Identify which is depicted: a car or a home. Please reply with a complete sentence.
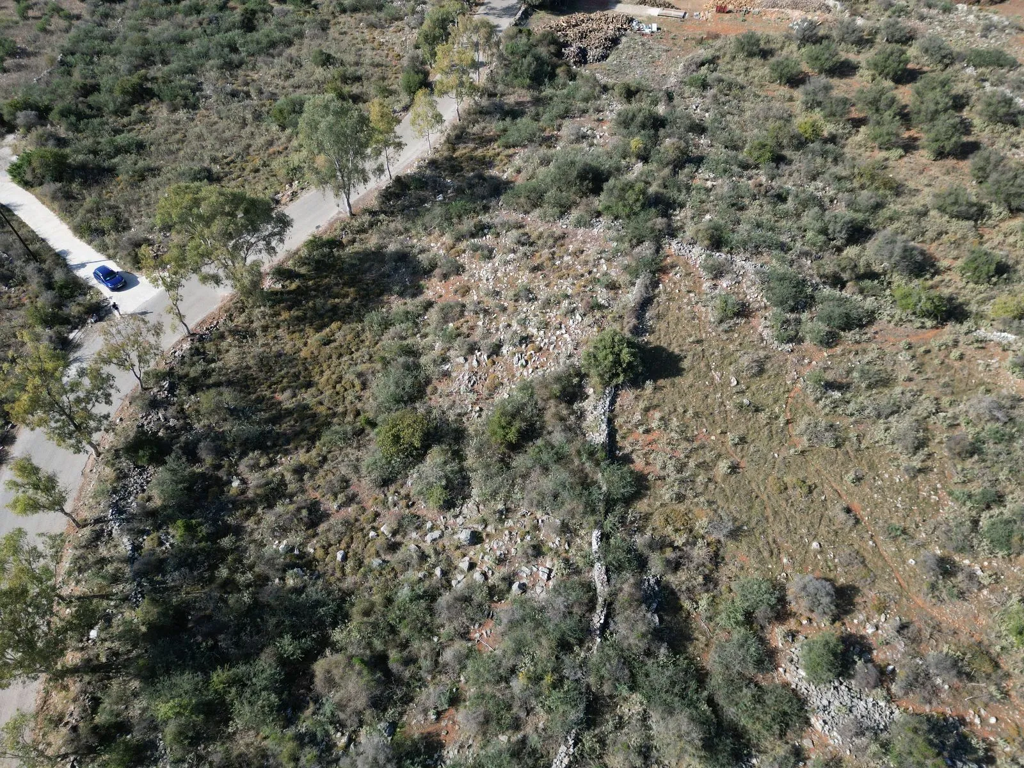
I can see a car in this picture.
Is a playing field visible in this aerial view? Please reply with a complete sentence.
No, I can see no playing field in this picture.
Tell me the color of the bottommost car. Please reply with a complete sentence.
The color of the bottommost car is blue.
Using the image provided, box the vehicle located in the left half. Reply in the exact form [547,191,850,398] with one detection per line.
[90,263,125,292]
